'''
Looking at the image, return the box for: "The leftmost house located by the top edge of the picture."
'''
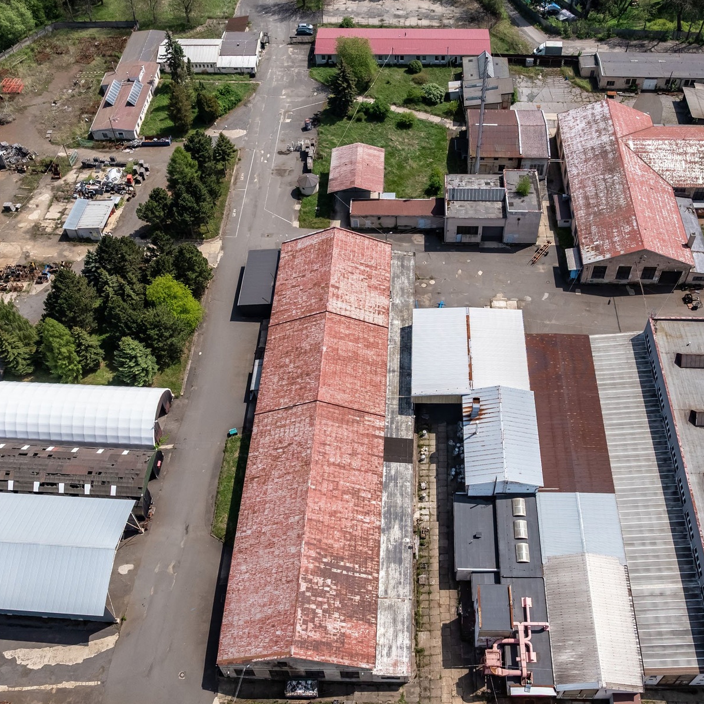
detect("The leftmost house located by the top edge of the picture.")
[92,32,171,146]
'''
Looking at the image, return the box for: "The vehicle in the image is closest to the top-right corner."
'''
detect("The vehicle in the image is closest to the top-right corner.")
[533,42,565,57]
